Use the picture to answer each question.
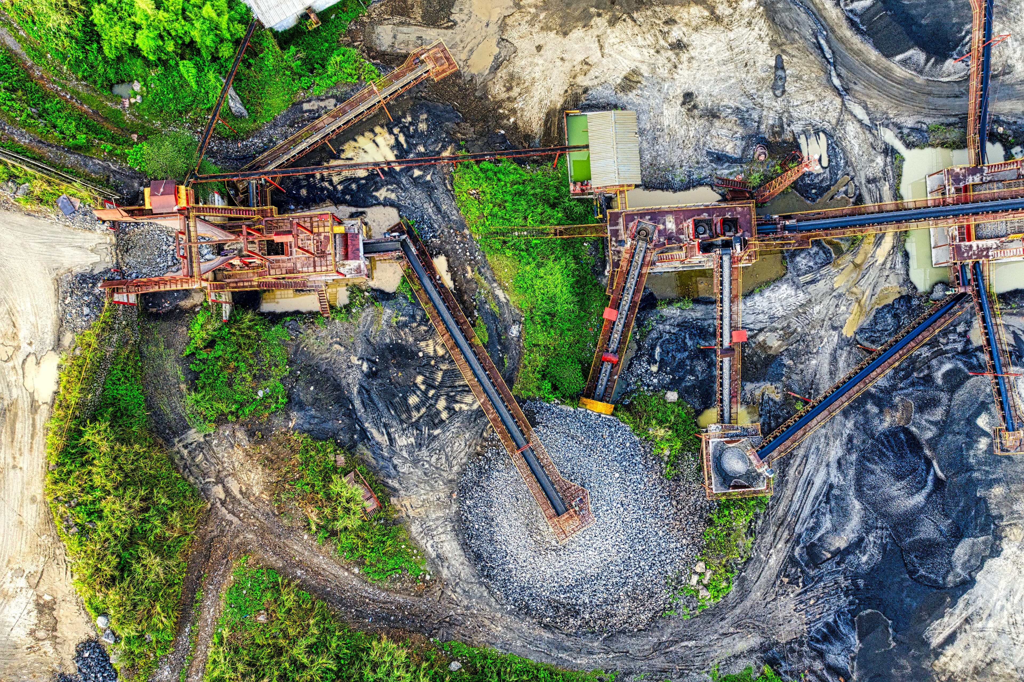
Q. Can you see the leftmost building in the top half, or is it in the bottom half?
top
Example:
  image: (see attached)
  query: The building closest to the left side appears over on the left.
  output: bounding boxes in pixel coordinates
[144,180,213,217]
